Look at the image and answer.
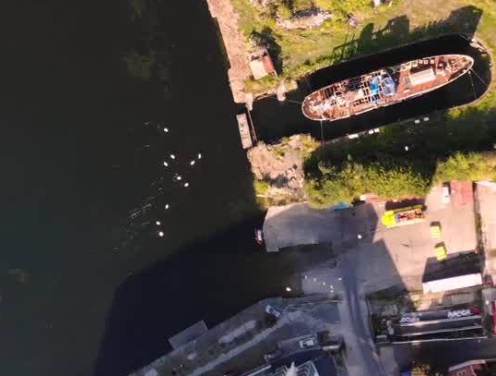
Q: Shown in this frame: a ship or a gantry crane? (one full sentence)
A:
Of the two, only a ship appears.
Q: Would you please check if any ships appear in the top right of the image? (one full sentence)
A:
Yes, a ship can be seen in the top right of the image.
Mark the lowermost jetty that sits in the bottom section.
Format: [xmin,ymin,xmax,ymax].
[168,319,207,347]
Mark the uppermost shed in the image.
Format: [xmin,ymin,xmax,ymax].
[251,54,275,76]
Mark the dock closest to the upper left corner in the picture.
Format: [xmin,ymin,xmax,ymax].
[237,113,255,148]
